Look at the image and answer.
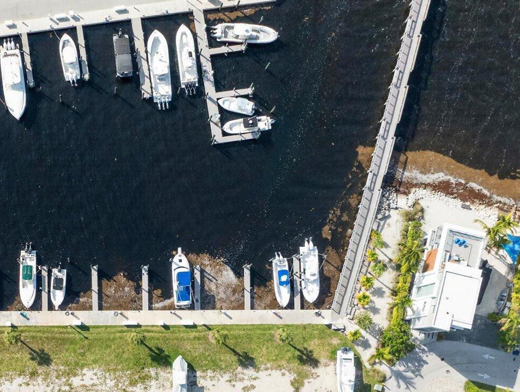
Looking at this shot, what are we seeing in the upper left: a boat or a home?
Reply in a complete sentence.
The feature located in the upper left is a boat.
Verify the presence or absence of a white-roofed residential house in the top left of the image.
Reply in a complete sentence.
No, I can find no white-roofed residential house in the top left of the image.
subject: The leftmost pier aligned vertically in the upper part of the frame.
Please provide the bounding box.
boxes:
[21,31,36,87]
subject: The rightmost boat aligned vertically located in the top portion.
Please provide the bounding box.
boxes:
[175,22,199,98]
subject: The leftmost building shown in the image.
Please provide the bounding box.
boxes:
[405,223,486,335]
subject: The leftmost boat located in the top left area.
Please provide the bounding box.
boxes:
[0,43,28,119]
